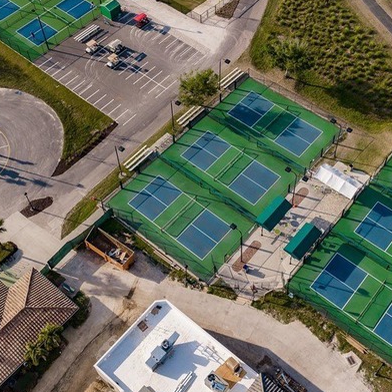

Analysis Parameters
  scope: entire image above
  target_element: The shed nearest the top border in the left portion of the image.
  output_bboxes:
[97,0,122,20]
